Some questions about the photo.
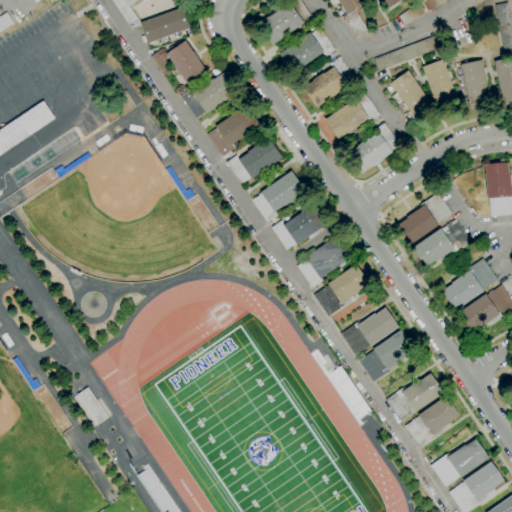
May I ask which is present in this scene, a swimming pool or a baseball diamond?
baseball diamond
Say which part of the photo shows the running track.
bottom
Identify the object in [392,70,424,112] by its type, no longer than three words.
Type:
building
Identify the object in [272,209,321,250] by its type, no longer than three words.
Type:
house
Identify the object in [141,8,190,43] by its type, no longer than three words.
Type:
house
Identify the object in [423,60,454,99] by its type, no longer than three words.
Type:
building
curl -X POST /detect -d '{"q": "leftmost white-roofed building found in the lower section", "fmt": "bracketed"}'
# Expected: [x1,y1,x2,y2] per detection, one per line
[74,387,112,427]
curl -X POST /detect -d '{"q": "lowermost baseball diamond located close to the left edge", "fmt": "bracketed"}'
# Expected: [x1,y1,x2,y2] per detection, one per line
[0,340,107,512]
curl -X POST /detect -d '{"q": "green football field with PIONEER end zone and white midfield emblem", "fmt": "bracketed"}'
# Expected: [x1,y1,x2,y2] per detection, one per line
[140,314,388,512]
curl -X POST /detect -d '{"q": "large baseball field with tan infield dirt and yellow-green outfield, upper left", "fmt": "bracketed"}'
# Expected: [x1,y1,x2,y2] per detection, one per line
[20,133,220,282]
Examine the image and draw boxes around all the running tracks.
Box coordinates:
[90,280,406,512]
